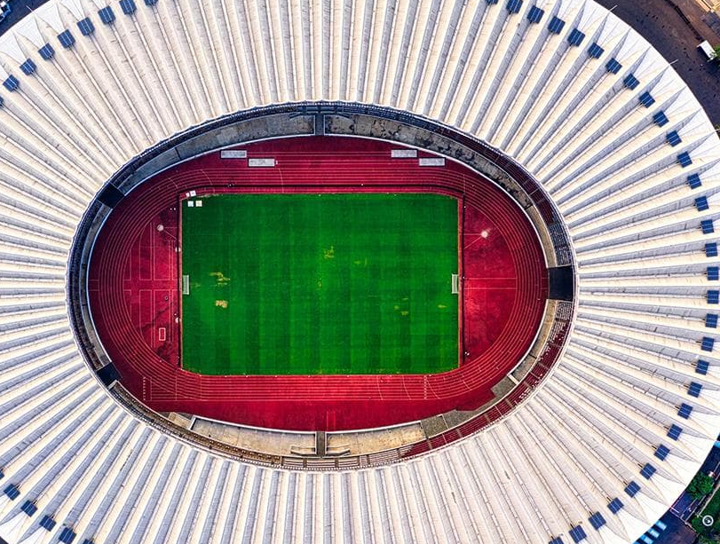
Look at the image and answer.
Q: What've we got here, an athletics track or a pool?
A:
athletics track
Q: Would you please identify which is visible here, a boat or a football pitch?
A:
football pitch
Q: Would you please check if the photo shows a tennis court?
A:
No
